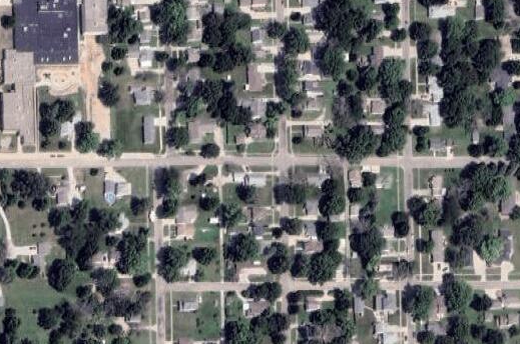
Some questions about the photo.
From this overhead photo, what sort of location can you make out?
residential area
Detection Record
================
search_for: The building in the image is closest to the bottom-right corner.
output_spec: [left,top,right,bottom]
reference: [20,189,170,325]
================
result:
[497,314,520,330]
